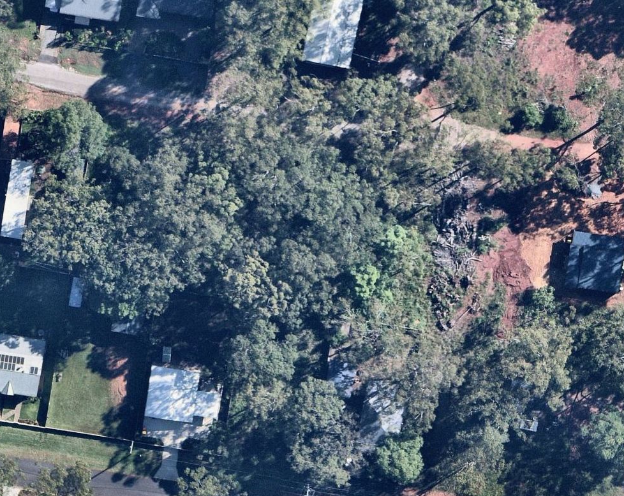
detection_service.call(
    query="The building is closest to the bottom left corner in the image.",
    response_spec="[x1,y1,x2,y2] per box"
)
[0,333,47,397]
